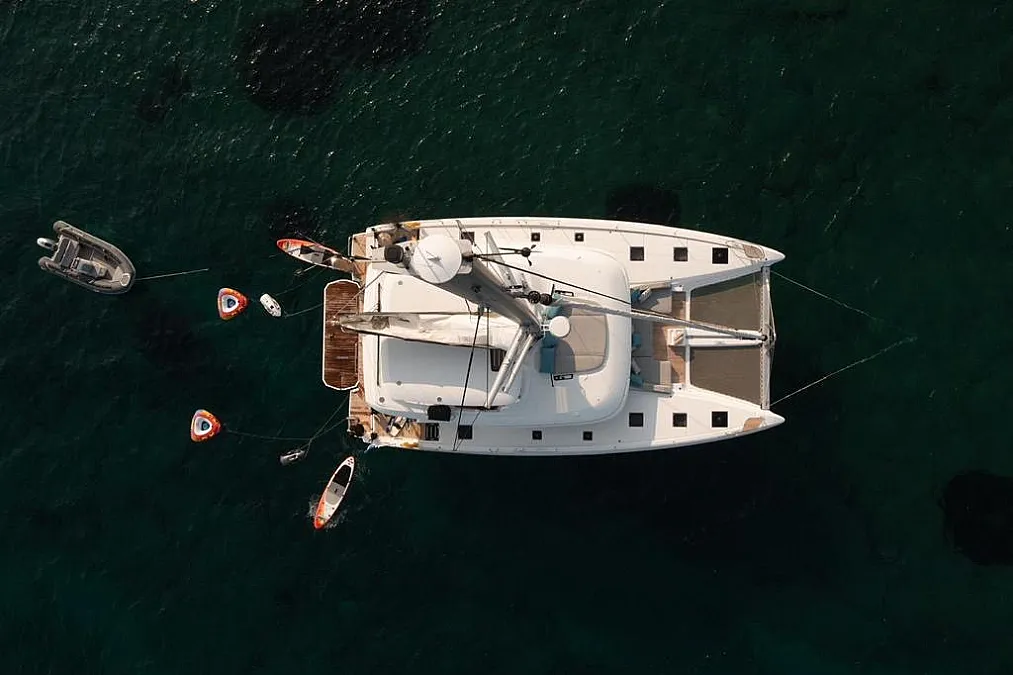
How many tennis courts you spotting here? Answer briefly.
none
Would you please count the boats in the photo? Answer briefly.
2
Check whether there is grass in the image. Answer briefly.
No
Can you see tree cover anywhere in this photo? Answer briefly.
No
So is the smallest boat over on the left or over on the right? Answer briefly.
left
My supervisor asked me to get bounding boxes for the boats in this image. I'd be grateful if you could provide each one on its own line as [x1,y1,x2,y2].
[322,217,787,457]
[37,219,138,292]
